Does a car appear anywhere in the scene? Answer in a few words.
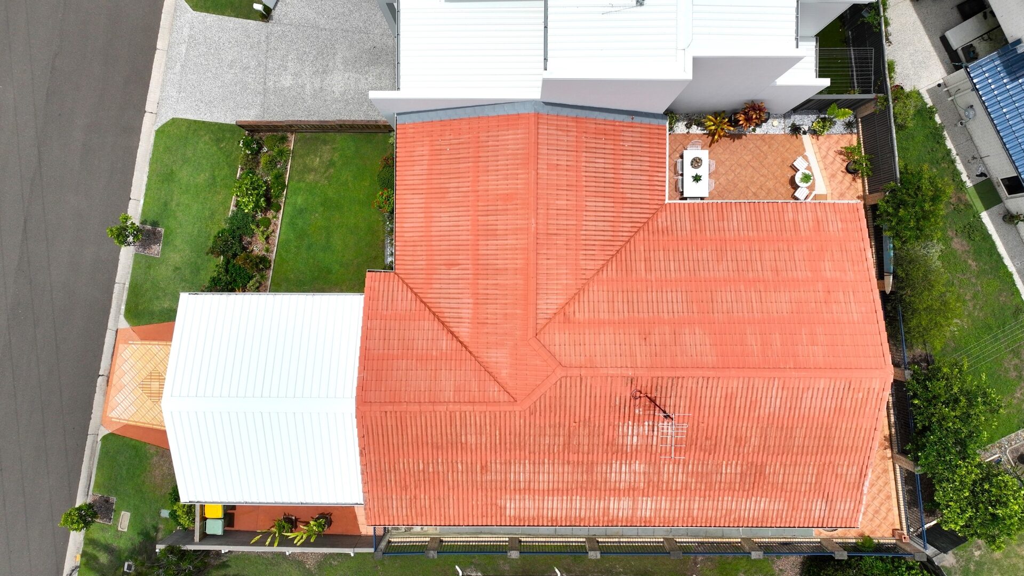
No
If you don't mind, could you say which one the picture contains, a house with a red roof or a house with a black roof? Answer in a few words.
house with a red roof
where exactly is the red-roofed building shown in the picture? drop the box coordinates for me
[352,100,895,530]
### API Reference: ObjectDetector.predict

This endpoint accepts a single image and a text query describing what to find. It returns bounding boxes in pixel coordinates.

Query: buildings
[942,0,1024,236]
[352,100,895,530]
